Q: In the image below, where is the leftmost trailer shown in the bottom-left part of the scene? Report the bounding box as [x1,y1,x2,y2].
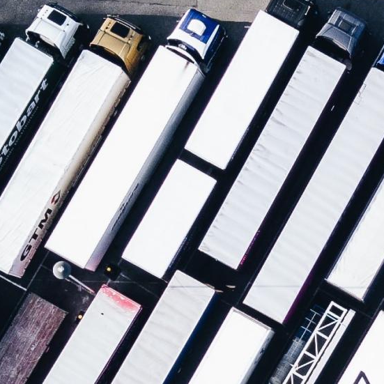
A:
[0,295,68,384]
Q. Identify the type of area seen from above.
parking lot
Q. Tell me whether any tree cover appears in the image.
No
